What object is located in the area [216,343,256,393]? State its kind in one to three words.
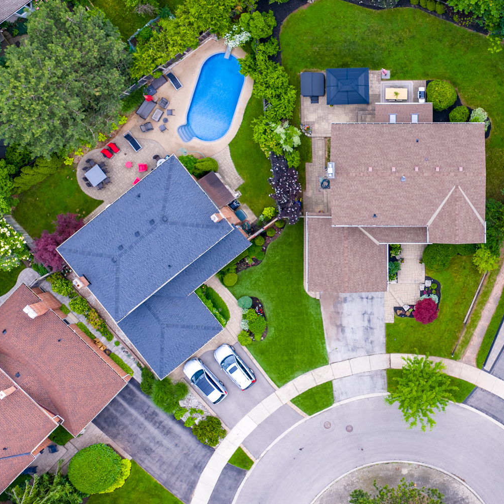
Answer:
car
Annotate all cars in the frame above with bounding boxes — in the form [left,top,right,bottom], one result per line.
[184,358,228,406]
[216,343,256,393]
